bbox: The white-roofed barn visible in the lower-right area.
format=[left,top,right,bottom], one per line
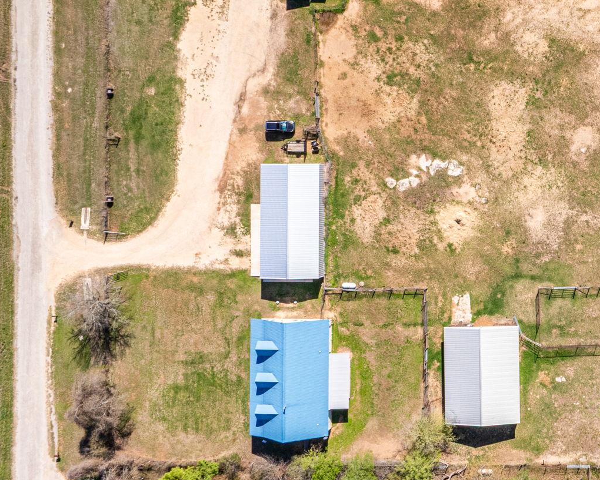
[445,325,520,427]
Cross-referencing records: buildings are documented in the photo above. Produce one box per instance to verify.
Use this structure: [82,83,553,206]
[445,325,520,427]
[260,162,325,281]
[248,316,349,442]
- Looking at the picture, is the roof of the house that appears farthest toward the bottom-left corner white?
No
